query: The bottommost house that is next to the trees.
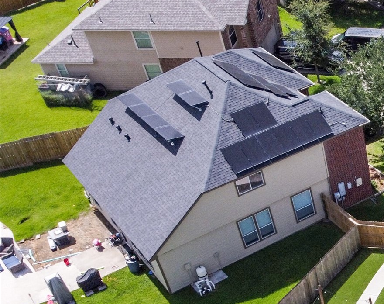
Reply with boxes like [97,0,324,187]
[62,46,375,293]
